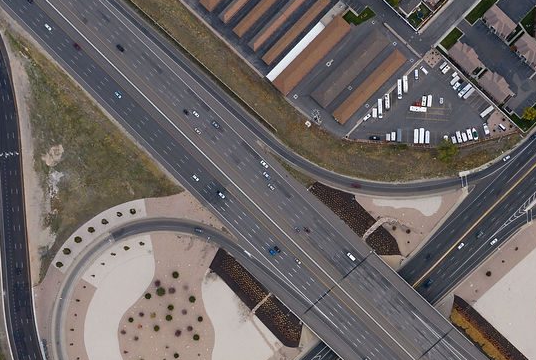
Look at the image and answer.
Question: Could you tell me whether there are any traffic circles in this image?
No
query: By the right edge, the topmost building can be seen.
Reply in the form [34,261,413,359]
[483,5,517,41]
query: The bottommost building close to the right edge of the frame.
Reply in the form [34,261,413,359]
[480,70,514,105]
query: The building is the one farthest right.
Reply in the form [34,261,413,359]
[515,34,536,70]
